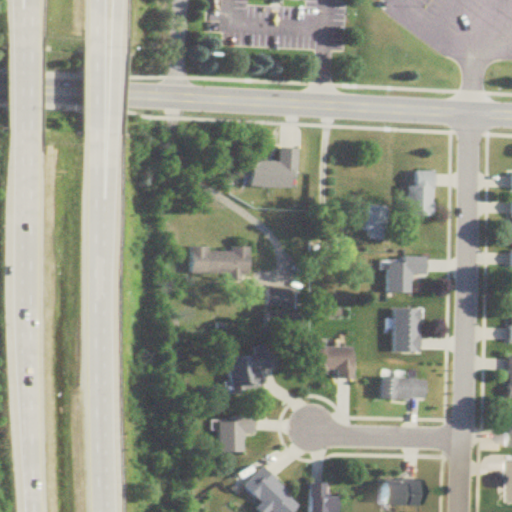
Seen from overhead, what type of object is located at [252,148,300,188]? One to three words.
house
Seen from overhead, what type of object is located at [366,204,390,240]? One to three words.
house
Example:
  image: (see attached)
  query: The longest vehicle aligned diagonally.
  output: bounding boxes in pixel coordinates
[239,464,256,478]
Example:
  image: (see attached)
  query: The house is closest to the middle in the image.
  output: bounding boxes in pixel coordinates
[191,246,252,281]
